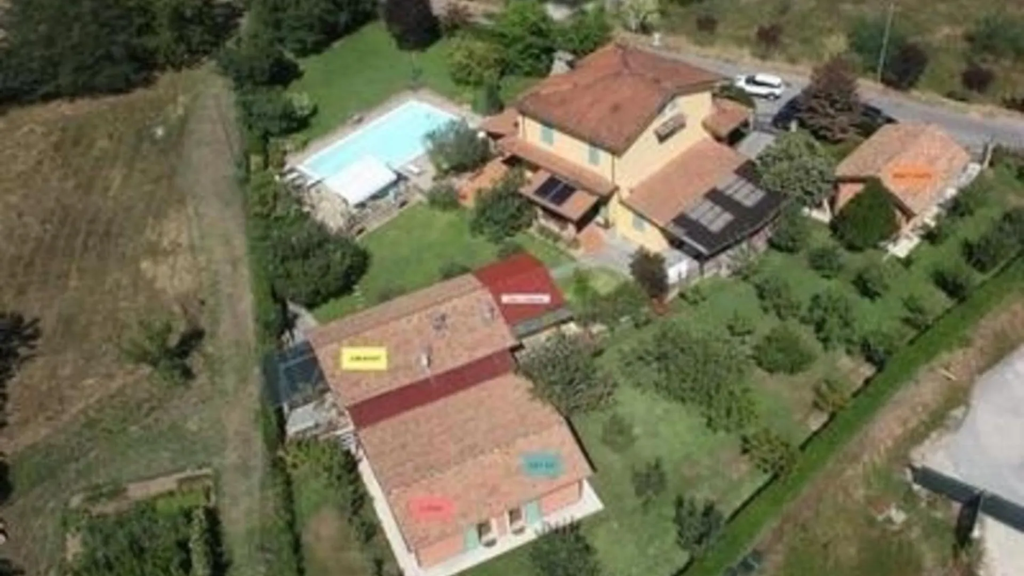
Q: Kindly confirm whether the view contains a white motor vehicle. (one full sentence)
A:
Yes, you can see a white motor vehicle in this photo.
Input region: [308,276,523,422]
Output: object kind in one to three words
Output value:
building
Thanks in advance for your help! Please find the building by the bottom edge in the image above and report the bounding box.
[353,369,595,574]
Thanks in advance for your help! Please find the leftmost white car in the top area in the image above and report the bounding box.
[740,73,786,98]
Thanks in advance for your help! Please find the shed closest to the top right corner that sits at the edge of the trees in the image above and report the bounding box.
[835,122,969,235]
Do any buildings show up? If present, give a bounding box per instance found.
[835,122,969,235]
[353,369,595,574]
[308,276,523,422]
[479,48,751,256]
